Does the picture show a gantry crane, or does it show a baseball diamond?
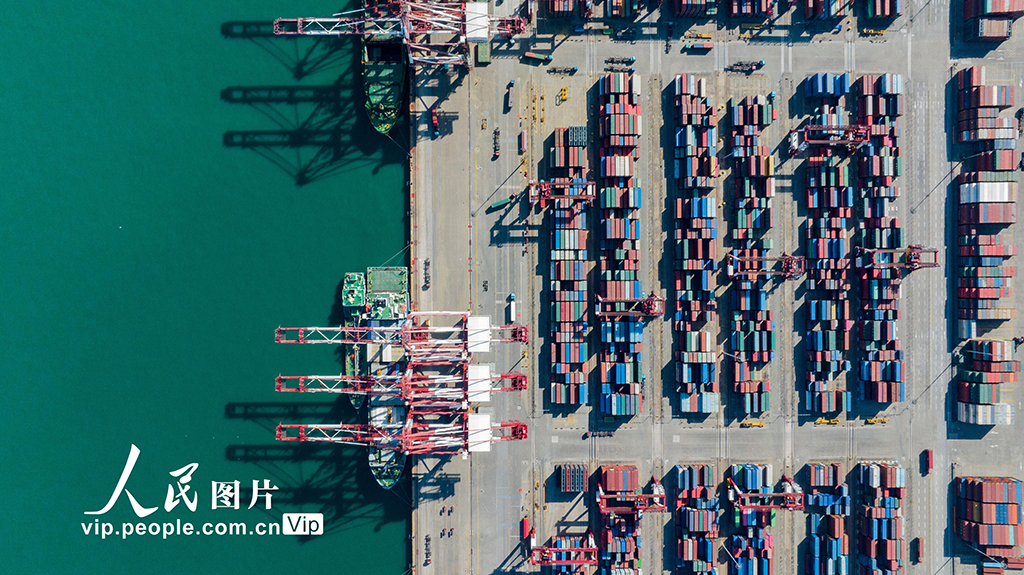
gantry crane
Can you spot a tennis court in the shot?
No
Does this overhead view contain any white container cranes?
Yes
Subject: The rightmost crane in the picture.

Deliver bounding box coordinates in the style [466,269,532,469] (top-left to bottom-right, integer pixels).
[856,246,939,271]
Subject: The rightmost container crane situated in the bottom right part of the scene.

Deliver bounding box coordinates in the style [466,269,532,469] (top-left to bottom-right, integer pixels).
[728,479,806,511]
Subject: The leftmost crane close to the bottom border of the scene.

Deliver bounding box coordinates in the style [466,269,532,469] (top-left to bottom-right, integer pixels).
[527,531,599,566]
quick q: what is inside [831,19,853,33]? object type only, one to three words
work vehicle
